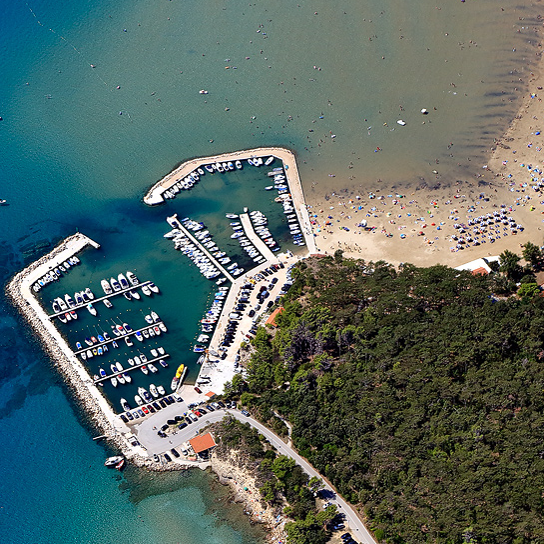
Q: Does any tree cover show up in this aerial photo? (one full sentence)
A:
Yes, tree cover can be seen from above here.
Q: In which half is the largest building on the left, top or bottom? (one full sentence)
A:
The largest building on the left is in the bottom half of the image.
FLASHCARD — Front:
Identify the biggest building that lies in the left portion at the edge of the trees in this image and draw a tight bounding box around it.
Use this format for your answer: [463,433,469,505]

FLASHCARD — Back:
[189,433,216,458]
